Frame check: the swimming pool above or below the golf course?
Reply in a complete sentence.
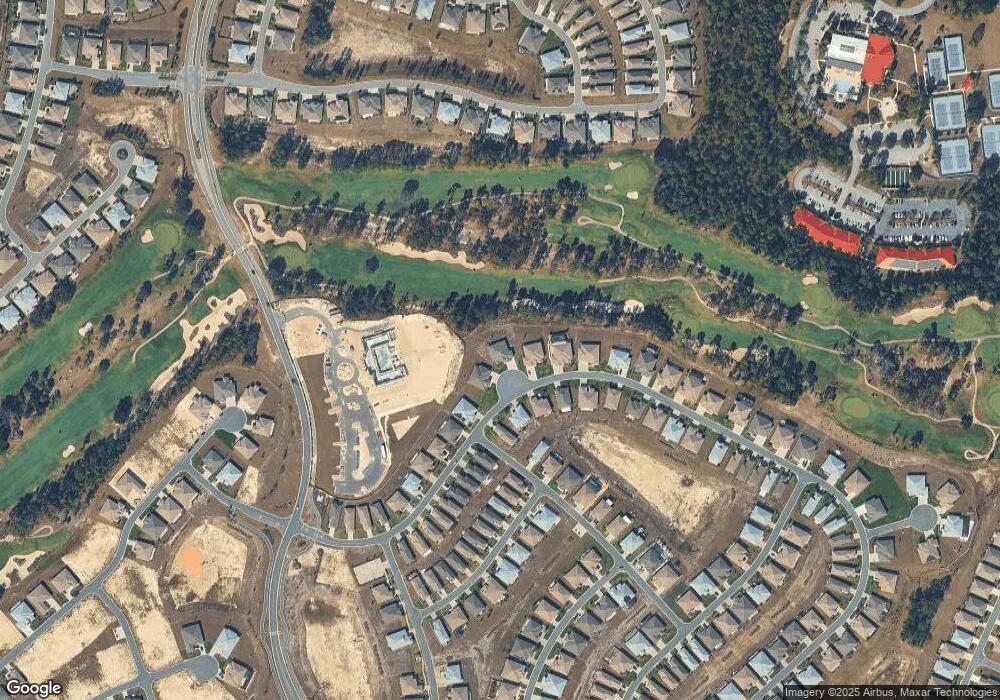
The swimming pool appears above the golf course in the picture.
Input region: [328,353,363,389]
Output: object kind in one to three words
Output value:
roundabout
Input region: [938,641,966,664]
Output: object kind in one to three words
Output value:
house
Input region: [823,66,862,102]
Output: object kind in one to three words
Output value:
swimming pool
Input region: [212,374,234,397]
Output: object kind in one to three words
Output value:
house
